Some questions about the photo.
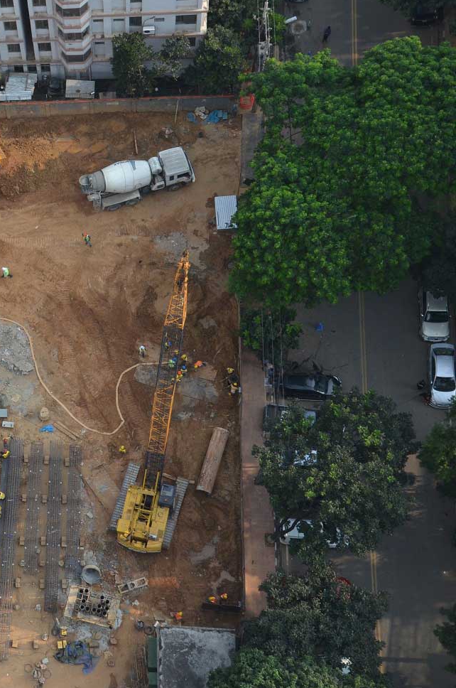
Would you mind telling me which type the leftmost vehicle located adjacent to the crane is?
truck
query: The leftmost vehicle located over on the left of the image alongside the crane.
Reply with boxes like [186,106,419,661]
[78,146,196,213]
